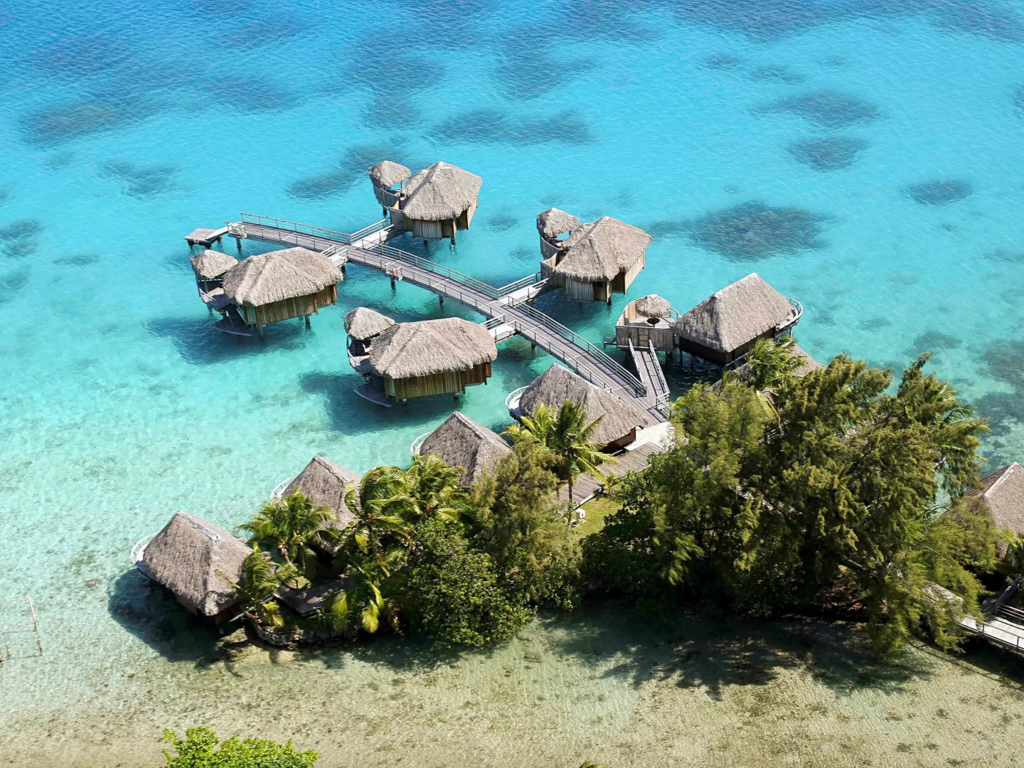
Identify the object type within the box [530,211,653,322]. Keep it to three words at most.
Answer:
house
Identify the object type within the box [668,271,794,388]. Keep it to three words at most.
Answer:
house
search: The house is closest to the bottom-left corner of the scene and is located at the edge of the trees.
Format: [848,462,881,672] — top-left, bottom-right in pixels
[127,508,253,643]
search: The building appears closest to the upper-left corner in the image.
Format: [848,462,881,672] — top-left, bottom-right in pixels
[187,245,343,337]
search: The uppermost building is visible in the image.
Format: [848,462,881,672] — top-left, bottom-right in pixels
[365,160,483,260]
